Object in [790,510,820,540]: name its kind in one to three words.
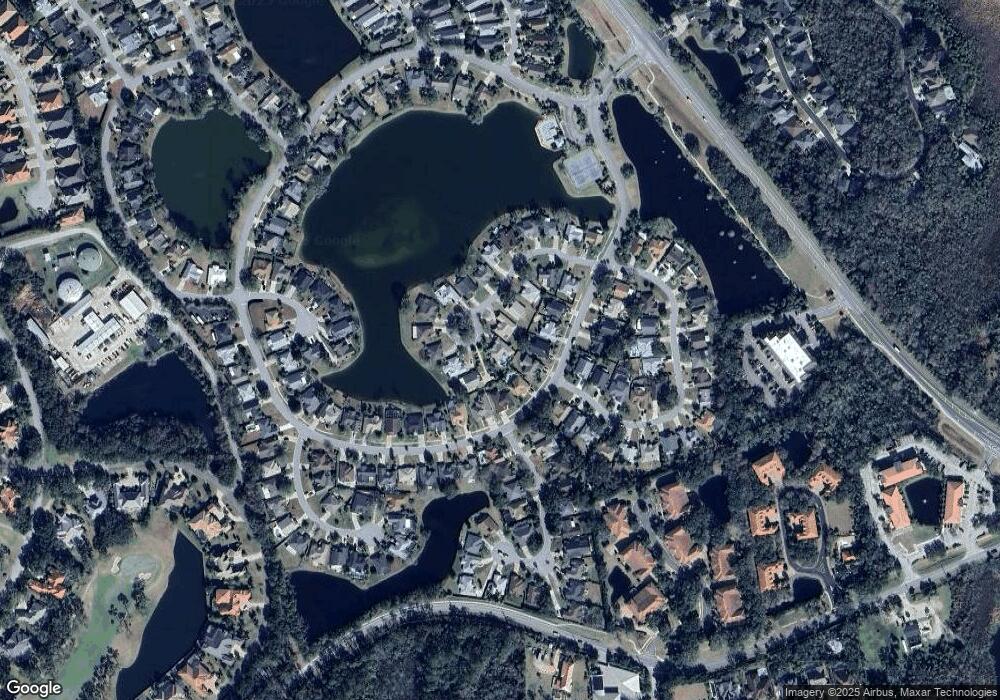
building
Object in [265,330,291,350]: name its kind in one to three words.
house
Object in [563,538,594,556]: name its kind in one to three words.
house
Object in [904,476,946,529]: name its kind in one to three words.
pond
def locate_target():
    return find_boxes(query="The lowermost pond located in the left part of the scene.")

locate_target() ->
[83,351,215,437]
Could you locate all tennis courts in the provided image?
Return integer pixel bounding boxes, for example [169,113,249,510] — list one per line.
[576,149,602,181]
[564,156,590,187]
